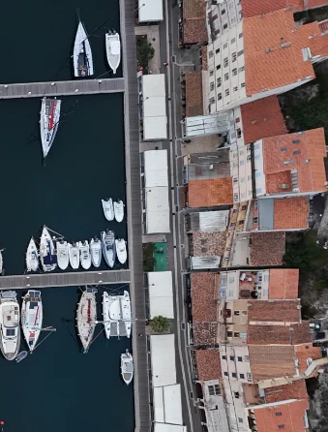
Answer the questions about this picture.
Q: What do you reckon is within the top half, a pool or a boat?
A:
boat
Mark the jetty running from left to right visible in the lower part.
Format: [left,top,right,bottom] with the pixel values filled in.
[0,270,130,290]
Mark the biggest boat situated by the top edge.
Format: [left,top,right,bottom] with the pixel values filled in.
[72,14,112,79]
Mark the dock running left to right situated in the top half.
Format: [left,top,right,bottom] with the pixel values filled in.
[0,79,124,99]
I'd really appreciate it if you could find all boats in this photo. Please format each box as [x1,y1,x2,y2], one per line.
[115,237,127,269]
[21,289,57,353]
[78,288,119,352]
[55,239,68,274]
[38,98,77,157]
[102,292,147,339]
[79,239,91,272]
[0,289,21,361]
[72,14,112,79]
[0,248,9,276]
[14,351,26,363]
[38,226,67,274]
[101,196,114,228]
[25,237,45,274]
[103,30,121,79]
[100,229,116,268]
[119,348,134,391]
[67,240,80,271]
[90,237,101,268]
[113,198,125,231]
